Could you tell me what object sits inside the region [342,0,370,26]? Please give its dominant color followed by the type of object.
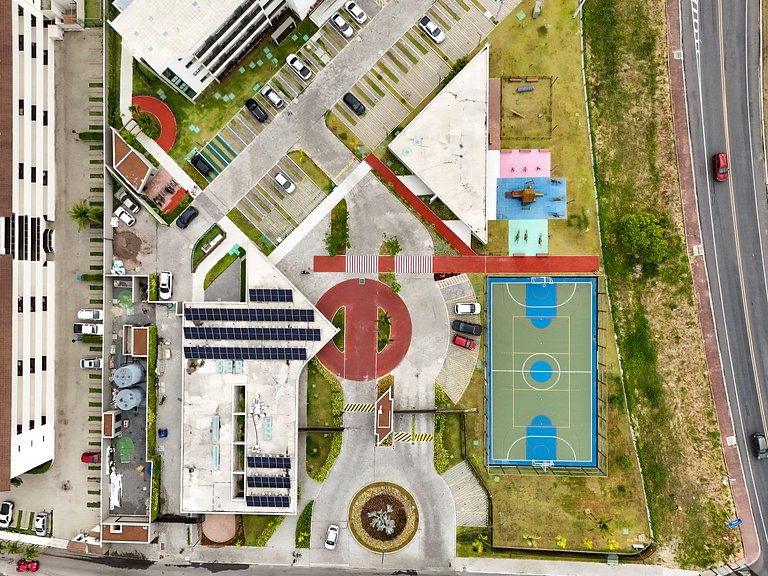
white car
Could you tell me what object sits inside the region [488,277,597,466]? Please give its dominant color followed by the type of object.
green sports court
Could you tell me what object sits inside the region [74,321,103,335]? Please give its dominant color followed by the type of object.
white vehicle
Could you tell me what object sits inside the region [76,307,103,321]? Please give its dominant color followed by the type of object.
white car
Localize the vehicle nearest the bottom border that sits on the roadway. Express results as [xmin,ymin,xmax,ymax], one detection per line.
[14,557,42,574]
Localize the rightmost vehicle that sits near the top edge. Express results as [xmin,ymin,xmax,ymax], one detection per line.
[417,14,446,44]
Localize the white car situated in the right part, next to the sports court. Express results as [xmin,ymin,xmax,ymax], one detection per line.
[454,302,482,316]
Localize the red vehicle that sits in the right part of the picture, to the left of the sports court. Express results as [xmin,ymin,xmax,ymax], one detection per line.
[451,334,478,350]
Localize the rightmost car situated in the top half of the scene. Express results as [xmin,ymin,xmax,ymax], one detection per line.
[711,152,730,183]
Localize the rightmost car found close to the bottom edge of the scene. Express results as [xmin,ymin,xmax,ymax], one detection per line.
[324,522,340,551]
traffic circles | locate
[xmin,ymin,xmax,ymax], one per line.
[348,482,420,554]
